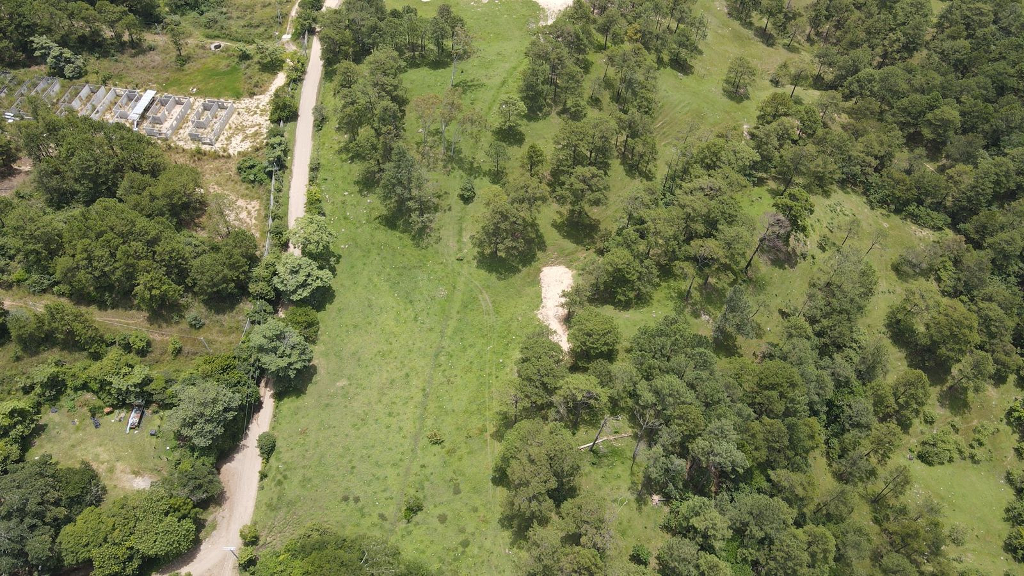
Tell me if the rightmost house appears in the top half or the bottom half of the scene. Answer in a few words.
top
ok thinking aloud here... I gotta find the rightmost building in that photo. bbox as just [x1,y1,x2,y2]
[188,97,238,140]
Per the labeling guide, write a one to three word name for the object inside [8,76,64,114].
house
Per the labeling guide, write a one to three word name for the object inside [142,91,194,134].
house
